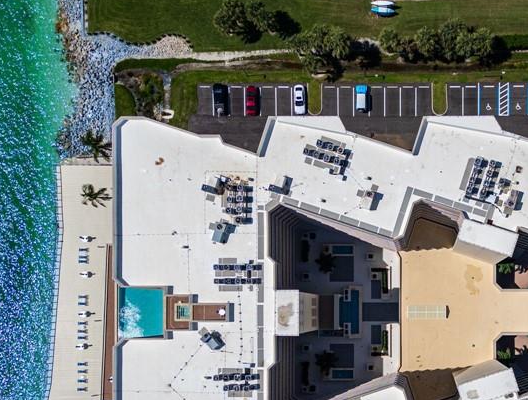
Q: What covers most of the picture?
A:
buildings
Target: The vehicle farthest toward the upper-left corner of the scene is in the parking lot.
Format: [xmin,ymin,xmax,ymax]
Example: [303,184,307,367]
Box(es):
[213,83,228,118]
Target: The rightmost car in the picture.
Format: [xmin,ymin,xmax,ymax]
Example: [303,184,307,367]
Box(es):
[355,85,368,113]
